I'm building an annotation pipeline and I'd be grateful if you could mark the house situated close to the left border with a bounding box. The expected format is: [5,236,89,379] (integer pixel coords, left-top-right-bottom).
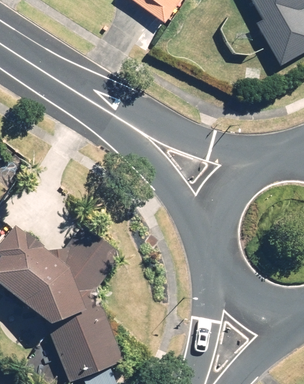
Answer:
[0,226,122,382]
